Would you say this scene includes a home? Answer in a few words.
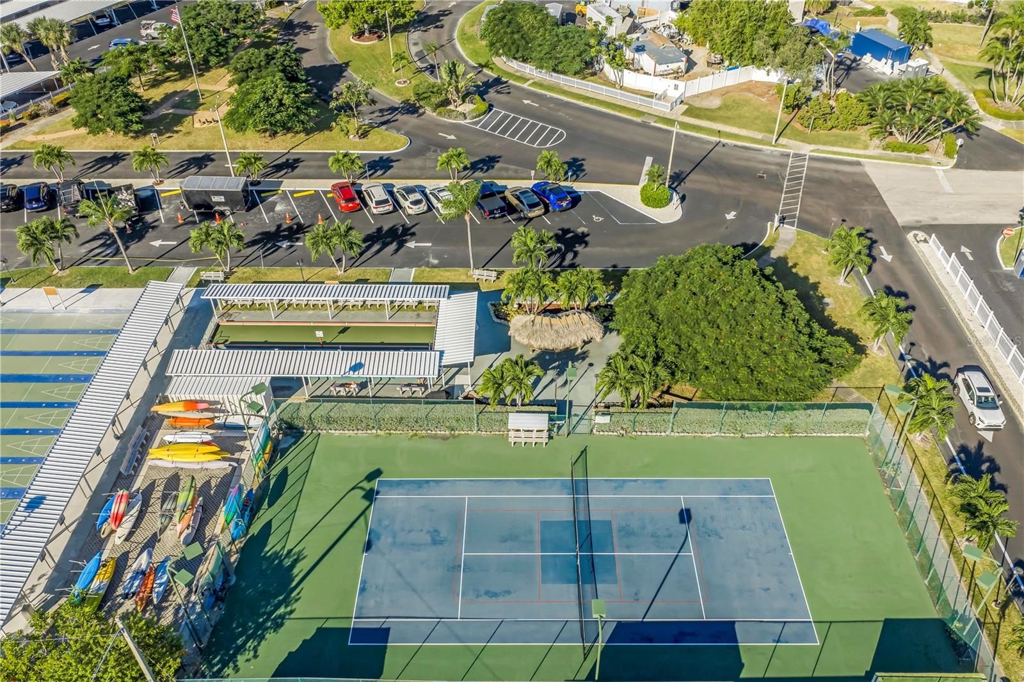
Yes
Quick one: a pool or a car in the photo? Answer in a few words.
car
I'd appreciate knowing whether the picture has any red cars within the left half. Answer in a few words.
Yes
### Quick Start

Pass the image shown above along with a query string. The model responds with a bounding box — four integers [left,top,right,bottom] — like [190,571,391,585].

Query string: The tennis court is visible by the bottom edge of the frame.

[199,433,986,682]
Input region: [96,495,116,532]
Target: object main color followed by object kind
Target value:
blue boat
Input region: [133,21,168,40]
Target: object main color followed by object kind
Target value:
white vehicle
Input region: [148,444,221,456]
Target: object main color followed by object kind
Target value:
yellow boat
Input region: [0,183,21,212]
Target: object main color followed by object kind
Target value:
black car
